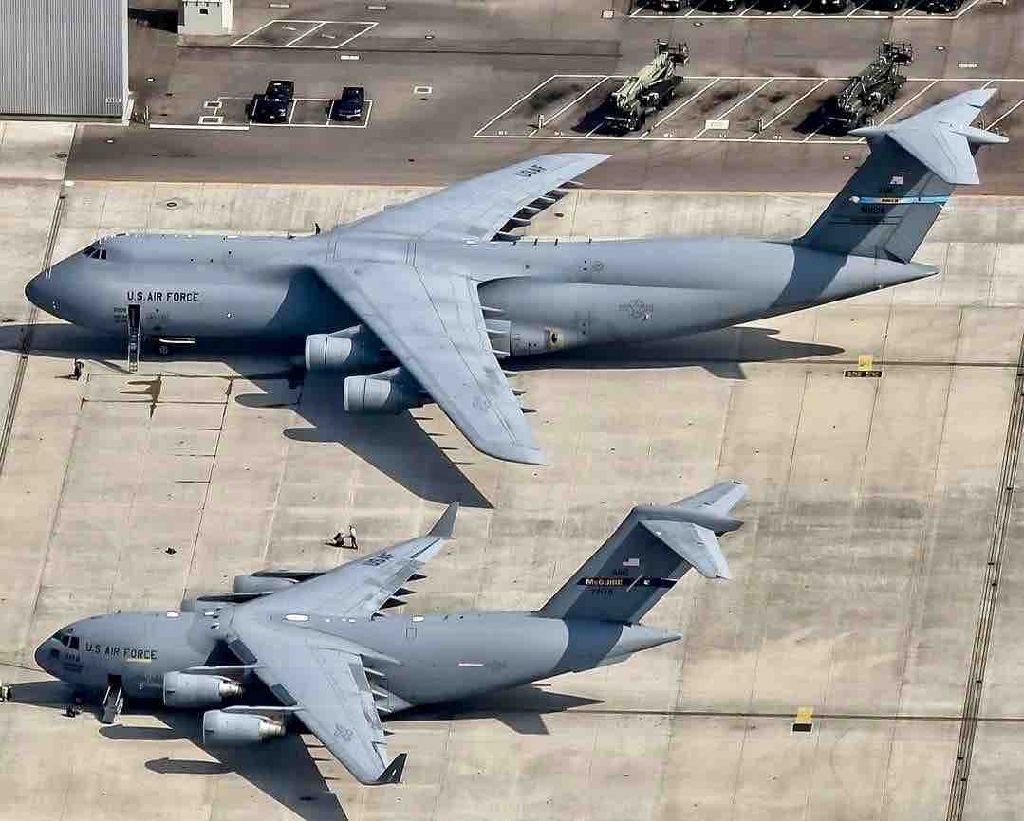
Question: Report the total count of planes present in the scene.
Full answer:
The picture shows 2 planes.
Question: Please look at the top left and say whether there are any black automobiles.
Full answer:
Yes, a black automobile is visible at the top left.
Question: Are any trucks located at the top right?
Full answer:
Yes, a truck can be seen at the top right.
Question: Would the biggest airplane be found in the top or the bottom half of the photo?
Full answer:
The top half of the photo is where the biggest airplane is.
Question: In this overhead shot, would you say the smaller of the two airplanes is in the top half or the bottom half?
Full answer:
The smaller of the two airplanes is in the bottom half of the image.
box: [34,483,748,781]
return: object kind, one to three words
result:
airplane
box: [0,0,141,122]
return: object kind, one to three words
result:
hangar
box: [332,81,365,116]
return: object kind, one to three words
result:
car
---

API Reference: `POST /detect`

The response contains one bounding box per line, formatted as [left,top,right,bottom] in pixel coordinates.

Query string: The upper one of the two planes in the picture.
[24,87,1009,466]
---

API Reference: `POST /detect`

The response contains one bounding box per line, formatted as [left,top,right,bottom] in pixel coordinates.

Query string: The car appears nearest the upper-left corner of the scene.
[260,75,297,117]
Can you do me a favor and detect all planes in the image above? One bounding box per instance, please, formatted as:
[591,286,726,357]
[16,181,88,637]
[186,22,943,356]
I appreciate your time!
[24,87,1009,466]
[34,483,748,781]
